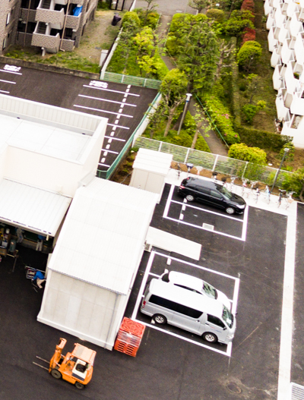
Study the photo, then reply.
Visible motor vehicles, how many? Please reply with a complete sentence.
I count 4 motor vehicles.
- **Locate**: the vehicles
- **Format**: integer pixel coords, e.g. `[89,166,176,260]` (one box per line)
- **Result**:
[177,176,251,215]
[26,338,100,392]
[160,271,245,325]
[142,282,235,345]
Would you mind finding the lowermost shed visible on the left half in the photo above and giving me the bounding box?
[36,172,163,351]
